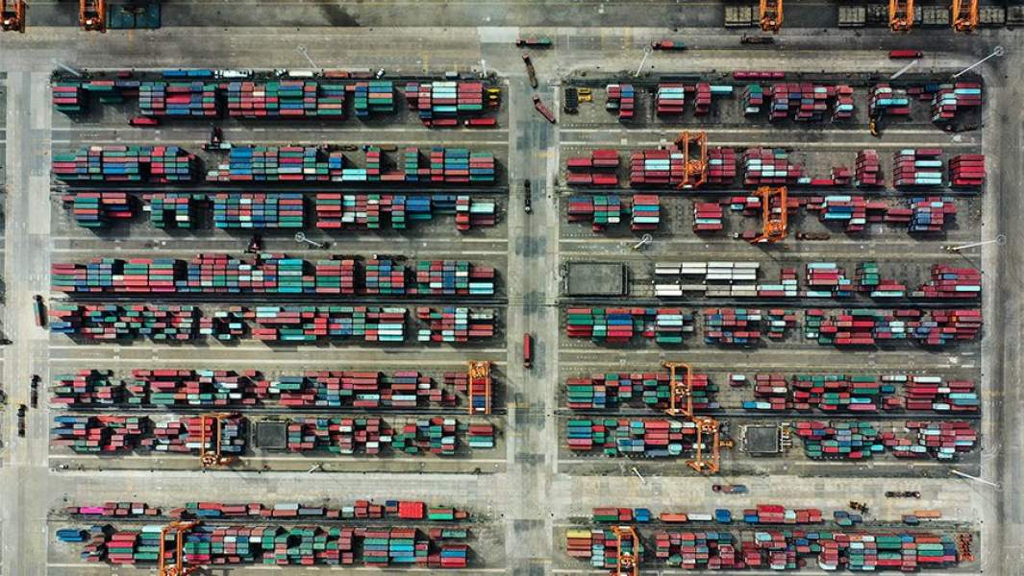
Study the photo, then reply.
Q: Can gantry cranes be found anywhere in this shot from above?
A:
Yes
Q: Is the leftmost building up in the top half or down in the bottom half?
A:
bottom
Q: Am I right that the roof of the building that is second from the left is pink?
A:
No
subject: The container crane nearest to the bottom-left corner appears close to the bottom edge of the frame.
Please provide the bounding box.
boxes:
[158,515,208,576]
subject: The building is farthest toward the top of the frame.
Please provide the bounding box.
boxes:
[565,261,625,294]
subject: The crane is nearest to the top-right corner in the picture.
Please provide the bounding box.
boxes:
[953,0,979,32]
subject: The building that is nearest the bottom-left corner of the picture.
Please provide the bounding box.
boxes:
[256,418,291,450]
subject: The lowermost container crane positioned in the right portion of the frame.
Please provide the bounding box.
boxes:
[613,514,639,576]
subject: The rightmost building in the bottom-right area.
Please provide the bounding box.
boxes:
[743,422,780,454]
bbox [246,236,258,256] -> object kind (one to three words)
vehicle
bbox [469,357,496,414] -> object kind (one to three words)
container crane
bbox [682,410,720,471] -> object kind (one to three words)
container crane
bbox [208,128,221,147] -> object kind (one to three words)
vehicle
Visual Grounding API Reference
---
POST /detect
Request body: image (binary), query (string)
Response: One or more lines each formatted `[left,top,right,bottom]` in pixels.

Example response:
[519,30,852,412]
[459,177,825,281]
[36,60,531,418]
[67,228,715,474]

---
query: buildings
[256,418,291,450]
[565,261,625,294]
[743,422,780,454]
